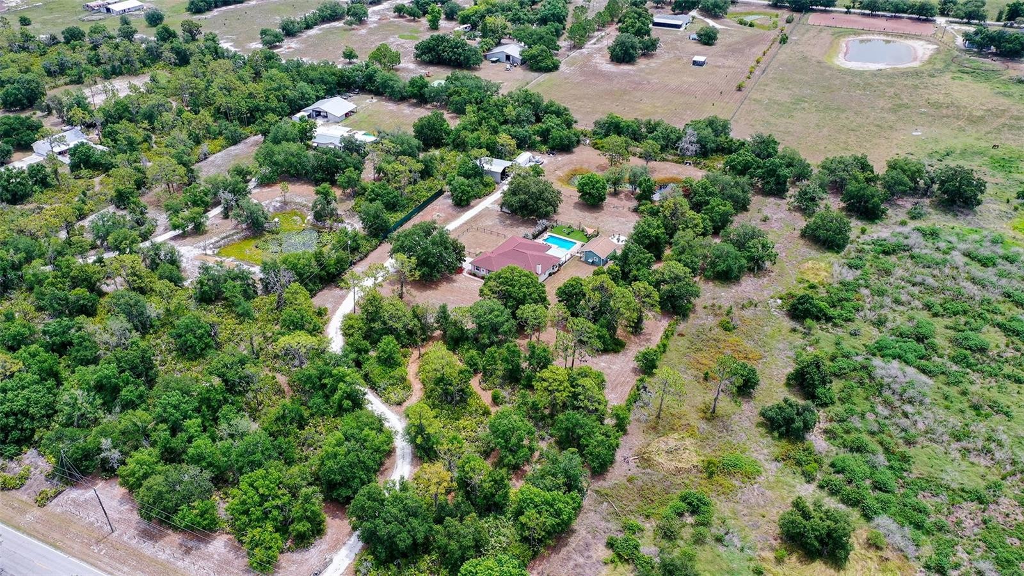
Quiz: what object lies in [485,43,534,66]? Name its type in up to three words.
building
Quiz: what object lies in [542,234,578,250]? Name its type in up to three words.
swimming pool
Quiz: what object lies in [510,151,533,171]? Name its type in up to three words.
shed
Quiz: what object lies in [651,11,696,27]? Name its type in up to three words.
house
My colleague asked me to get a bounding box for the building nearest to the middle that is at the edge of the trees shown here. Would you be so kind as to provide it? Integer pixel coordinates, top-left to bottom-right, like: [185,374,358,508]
[469,235,560,282]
